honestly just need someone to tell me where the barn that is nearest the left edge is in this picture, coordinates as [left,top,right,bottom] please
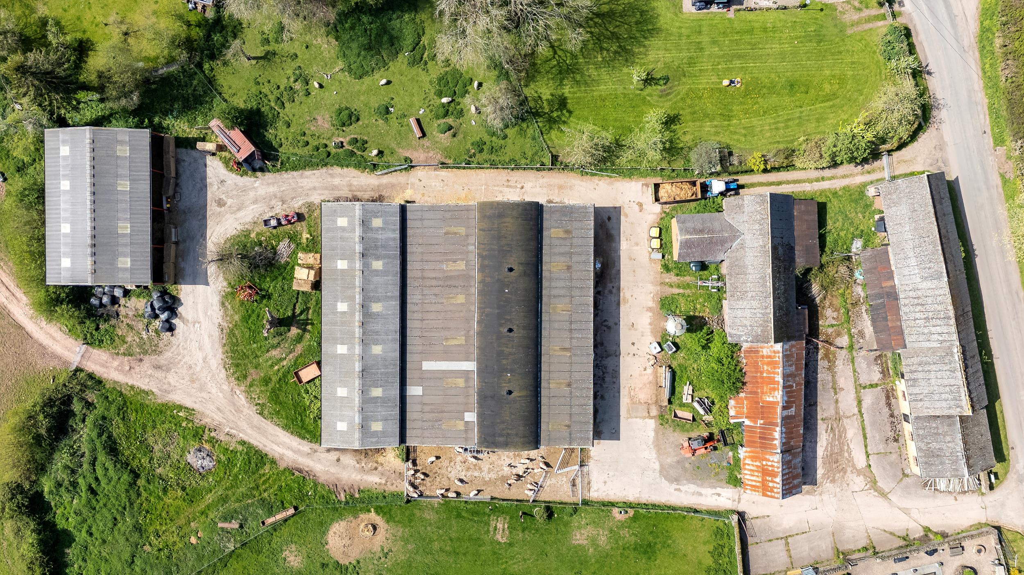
[43,125,168,287]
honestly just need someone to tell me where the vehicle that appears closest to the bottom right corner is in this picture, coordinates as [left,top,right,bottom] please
[675,432,728,460]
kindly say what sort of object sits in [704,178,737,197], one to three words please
work vehicle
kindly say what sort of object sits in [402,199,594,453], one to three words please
barn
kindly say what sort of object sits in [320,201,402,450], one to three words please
shed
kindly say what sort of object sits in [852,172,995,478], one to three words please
building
